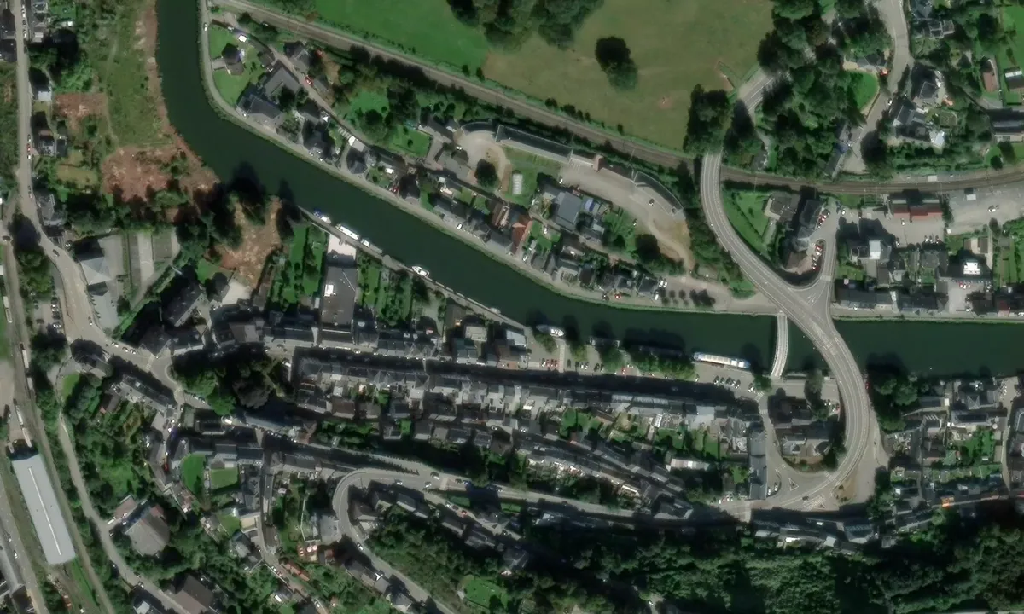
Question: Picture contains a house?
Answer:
Yes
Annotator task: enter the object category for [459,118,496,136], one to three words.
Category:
building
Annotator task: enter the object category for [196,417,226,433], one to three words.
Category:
house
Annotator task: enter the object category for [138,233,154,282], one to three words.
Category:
tennis court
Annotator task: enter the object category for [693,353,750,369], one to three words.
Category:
boat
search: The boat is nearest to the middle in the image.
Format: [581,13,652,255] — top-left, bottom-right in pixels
[537,325,565,338]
